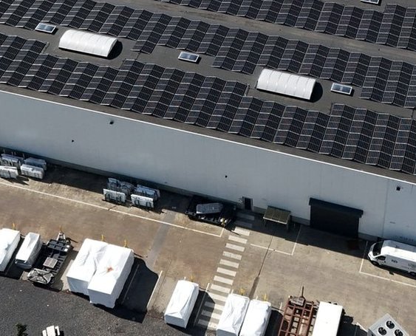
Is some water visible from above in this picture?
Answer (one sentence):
No, there is no water in the image.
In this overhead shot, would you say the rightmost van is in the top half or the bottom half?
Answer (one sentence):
The rightmost van is in the bottom half of the image.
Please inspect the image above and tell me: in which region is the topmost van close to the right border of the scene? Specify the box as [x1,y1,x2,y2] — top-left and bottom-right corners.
[369,239,416,272]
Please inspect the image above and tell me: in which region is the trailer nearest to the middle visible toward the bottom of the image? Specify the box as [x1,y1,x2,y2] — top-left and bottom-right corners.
[184,206,244,234]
